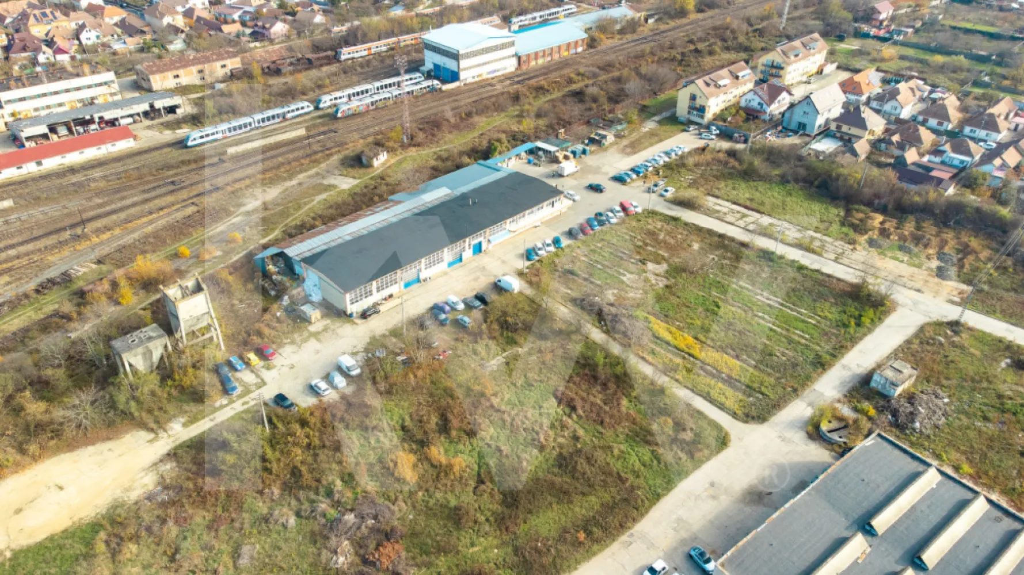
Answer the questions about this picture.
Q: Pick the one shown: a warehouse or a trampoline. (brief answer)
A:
warehouse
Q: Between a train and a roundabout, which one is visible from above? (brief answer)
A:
train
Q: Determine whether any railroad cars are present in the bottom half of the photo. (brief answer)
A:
No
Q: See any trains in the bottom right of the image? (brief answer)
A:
No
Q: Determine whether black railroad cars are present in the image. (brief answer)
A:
No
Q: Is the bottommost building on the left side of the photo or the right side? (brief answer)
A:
right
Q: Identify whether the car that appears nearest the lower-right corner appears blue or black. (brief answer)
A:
blue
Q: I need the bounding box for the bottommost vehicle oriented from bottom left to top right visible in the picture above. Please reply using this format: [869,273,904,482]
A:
[640,552,675,575]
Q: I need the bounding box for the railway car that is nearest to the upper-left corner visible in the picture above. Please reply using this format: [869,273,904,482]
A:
[184,98,317,144]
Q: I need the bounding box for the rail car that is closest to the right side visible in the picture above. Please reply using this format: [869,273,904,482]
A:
[514,6,576,29]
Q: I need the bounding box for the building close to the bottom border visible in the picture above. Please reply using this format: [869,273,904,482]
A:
[716,435,1024,575]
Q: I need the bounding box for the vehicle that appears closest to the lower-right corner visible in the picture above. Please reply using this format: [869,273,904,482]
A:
[685,544,719,575]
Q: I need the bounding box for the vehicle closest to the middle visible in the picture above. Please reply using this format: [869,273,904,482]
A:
[494,275,522,295]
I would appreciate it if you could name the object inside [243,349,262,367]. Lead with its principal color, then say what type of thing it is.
yellow car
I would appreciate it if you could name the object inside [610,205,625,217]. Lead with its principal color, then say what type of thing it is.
white vehicle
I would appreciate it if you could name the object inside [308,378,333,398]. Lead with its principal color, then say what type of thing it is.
white car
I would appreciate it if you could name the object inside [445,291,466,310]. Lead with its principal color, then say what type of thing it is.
white vehicle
